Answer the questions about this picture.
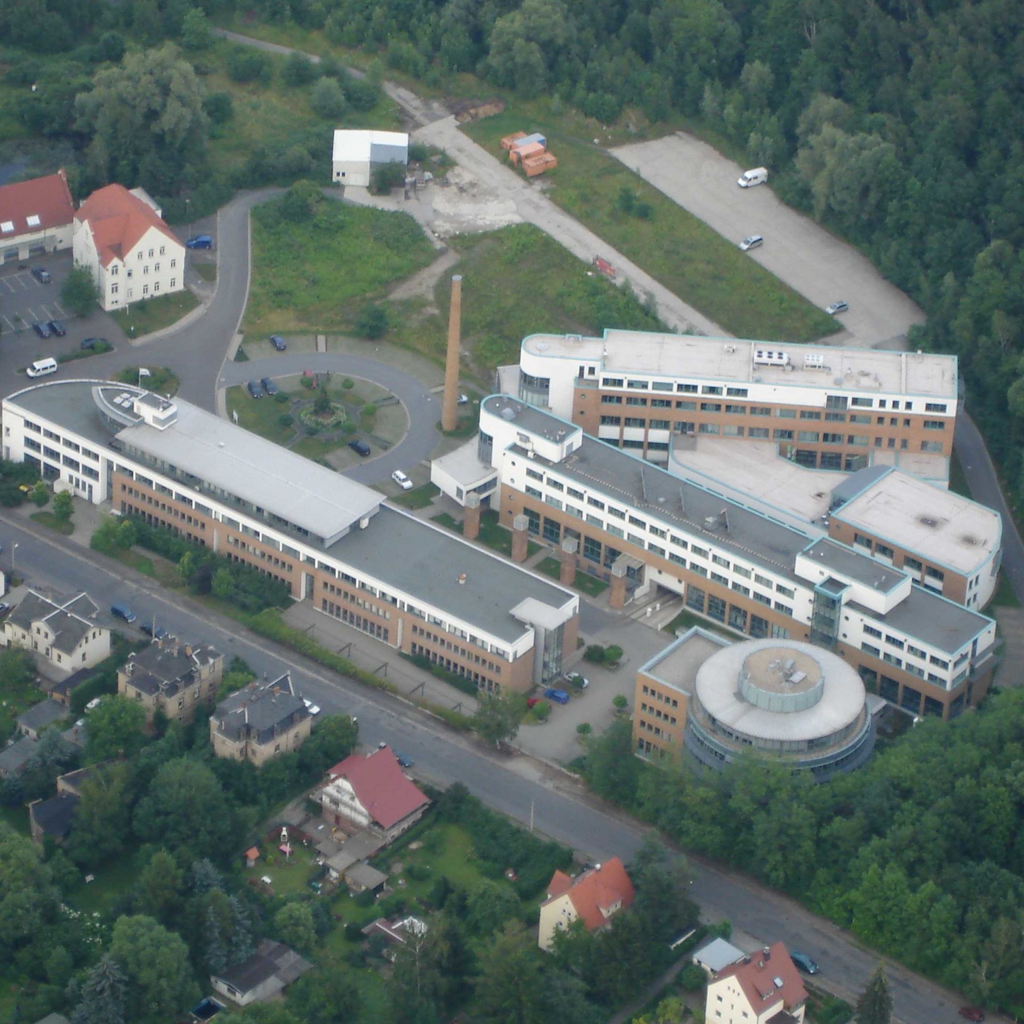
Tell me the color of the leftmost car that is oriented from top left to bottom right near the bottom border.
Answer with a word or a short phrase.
blue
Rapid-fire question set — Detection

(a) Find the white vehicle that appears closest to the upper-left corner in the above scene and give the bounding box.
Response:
[28,356,57,379]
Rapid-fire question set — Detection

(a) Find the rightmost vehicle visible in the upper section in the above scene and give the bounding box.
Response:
[826,302,848,317]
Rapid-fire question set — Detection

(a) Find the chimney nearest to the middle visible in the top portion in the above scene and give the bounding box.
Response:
[441,271,461,432]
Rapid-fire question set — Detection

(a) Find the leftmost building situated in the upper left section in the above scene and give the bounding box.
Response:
[0,167,82,266]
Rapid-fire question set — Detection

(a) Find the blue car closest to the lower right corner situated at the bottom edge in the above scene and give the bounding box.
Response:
[791,953,818,974]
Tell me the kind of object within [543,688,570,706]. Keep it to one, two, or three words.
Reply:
car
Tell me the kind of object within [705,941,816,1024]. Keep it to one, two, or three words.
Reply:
house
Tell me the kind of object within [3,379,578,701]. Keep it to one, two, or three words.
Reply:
building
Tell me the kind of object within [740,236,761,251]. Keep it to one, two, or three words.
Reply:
car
